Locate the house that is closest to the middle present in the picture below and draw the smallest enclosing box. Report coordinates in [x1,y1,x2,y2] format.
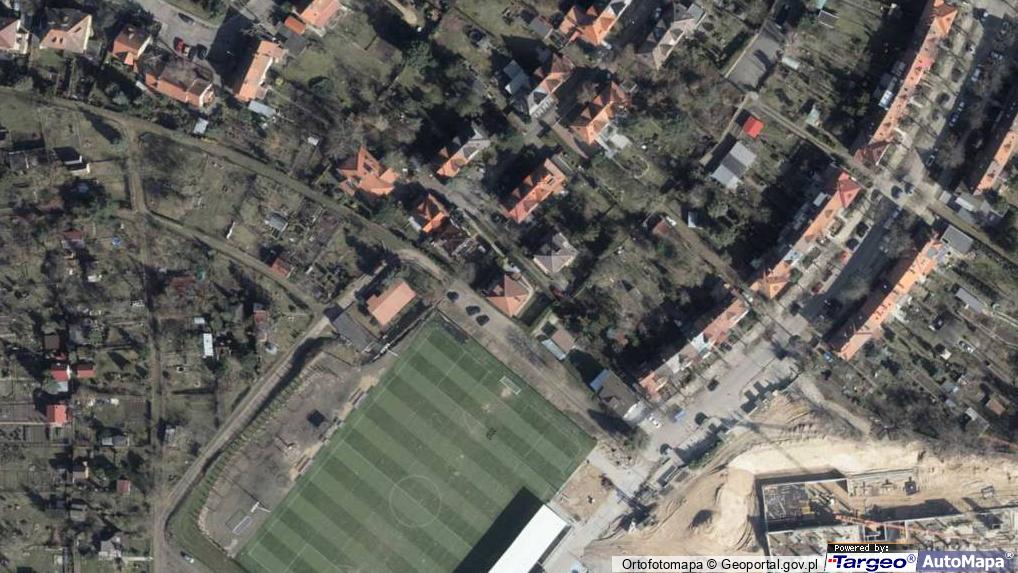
[490,276,531,316]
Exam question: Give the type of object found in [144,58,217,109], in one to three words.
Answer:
house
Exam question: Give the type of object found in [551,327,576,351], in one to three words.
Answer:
building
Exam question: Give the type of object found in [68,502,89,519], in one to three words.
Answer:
shed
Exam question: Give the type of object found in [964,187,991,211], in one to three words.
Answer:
building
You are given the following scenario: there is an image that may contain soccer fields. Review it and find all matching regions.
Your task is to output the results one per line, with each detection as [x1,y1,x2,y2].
[230,311,599,573]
